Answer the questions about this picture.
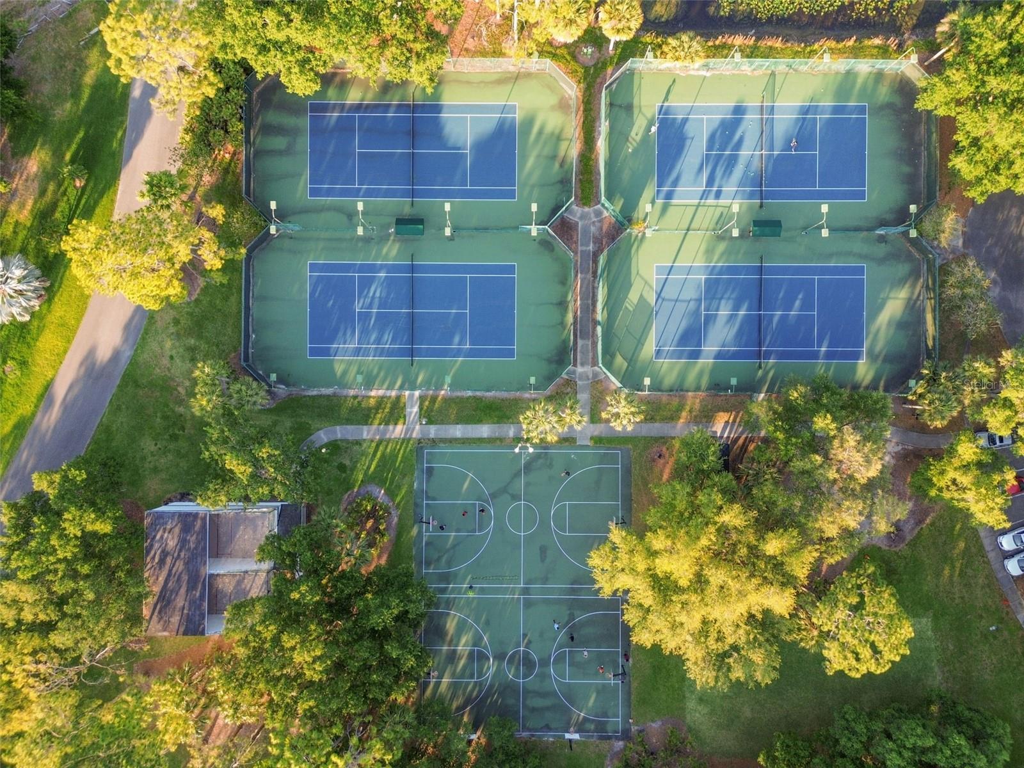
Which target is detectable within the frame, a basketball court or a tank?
basketball court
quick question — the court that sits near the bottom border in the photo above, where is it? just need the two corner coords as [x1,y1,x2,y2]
[413,591,632,741]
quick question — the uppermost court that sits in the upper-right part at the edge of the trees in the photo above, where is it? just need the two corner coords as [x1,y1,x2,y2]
[601,73,922,230]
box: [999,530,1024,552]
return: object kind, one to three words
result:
car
